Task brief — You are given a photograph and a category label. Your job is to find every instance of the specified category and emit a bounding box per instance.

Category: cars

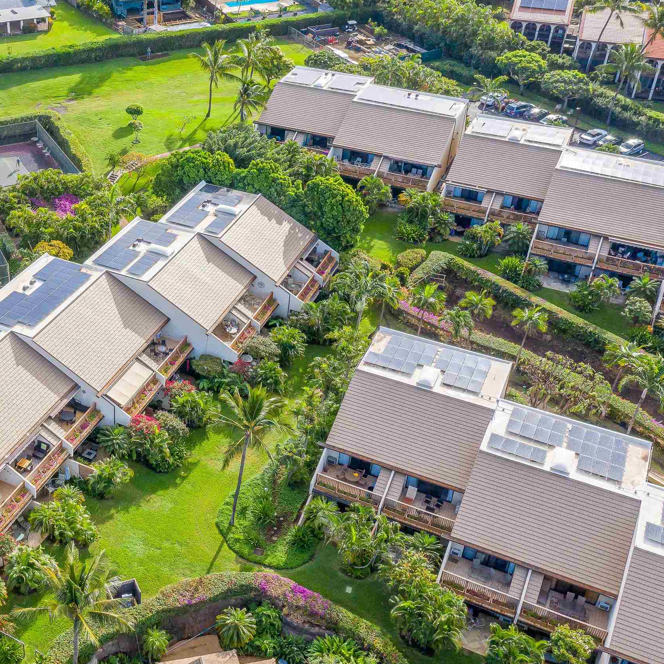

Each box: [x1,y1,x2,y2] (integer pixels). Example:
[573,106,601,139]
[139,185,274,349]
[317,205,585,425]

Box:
[521,107,550,121]
[504,99,533,116]
[576,129,607,144]
[615,137,645,154]
[594,135,625,150]
[484,98,511,112]
[539,114,567,124]
[479,92,504,104]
